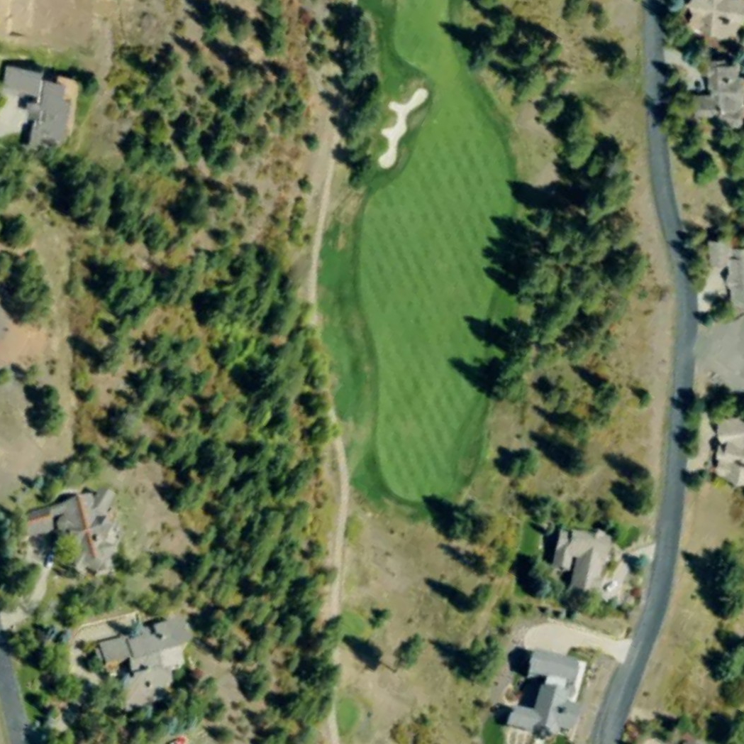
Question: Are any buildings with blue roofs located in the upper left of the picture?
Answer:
No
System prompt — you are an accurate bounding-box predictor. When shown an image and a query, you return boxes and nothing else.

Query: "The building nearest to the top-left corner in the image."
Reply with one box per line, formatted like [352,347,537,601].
[2,62,78,151]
